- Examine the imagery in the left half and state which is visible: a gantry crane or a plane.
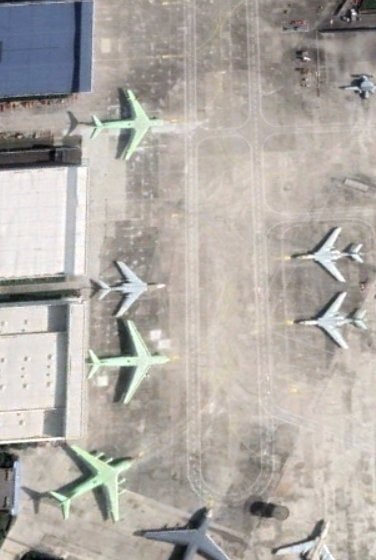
plane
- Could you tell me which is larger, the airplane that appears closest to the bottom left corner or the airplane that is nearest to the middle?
the airplane that appears closest to the bottom left corner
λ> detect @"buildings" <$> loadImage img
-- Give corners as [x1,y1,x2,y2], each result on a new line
[0,297,85,442]
[0,163,87,279]
[0,461,20,517]
[0,0,93,99]
[0,149,50,163]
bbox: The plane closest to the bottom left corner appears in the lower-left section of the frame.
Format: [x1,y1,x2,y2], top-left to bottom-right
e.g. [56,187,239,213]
[48,445,134,522]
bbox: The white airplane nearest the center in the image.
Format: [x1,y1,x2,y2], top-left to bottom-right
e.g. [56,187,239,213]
[95,262,164,316]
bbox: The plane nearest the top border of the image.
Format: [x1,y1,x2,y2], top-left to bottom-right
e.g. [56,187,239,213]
[345,74,376,97]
